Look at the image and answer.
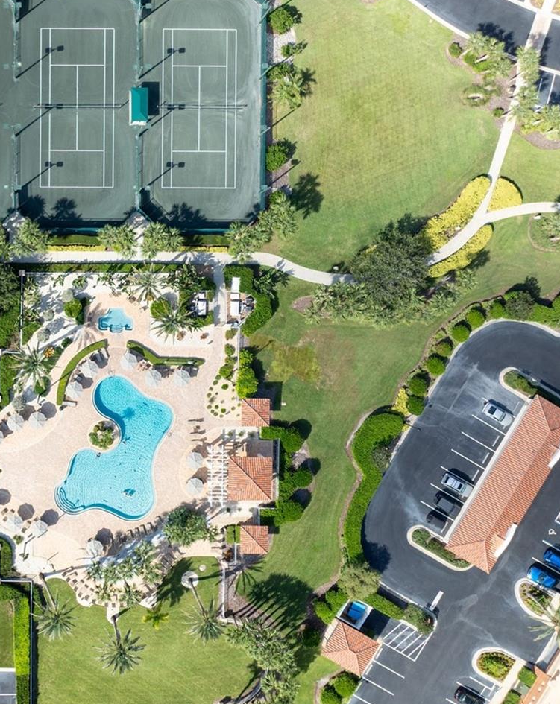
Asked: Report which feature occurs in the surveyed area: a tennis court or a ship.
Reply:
tennis court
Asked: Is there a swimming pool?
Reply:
Yes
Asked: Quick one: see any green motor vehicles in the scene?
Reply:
No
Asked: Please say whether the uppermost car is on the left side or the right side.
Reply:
right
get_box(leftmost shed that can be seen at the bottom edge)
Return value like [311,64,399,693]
[319,614,382,677]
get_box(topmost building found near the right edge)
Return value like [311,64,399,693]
[439,395,560,575]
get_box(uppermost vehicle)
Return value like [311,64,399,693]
[483,402,513,425]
